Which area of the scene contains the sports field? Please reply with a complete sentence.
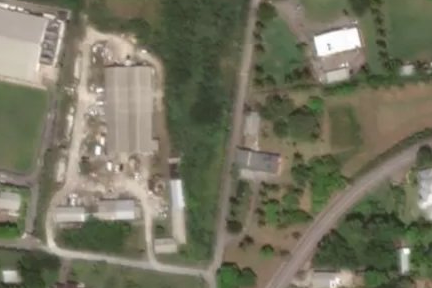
Look in the left portion of the view to spot the sports field.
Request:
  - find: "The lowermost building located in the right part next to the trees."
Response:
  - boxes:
[313,271,340,288]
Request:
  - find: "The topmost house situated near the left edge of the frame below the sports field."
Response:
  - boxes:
[0,193,20,211]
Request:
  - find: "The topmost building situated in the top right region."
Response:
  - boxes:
[314,28,361,56]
